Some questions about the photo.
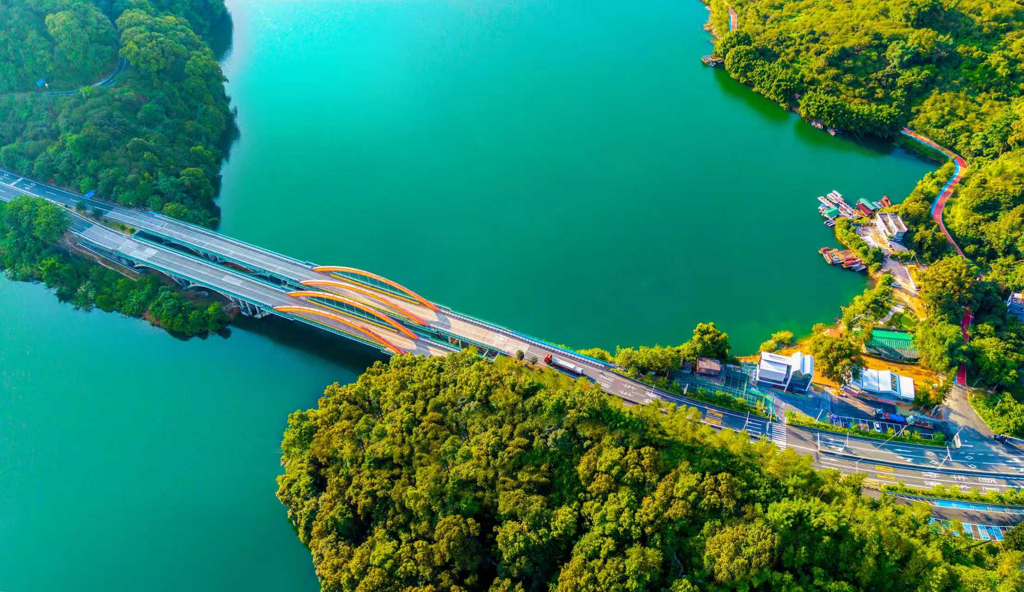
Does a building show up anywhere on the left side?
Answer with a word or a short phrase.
No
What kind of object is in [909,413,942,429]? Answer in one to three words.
vehicle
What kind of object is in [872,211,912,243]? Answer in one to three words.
house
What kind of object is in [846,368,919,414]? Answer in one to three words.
building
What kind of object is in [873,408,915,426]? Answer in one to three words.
vehicle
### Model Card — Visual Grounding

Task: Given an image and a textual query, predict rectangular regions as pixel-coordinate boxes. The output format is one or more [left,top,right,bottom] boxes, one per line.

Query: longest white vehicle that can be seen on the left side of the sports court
[545,354,588,376]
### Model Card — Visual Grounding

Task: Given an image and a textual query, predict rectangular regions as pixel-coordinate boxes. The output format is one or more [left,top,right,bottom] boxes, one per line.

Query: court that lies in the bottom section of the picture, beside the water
[691,363,781,413]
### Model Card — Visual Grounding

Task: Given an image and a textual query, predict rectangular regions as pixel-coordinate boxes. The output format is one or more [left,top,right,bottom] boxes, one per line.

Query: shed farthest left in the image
[696,357,723,377]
